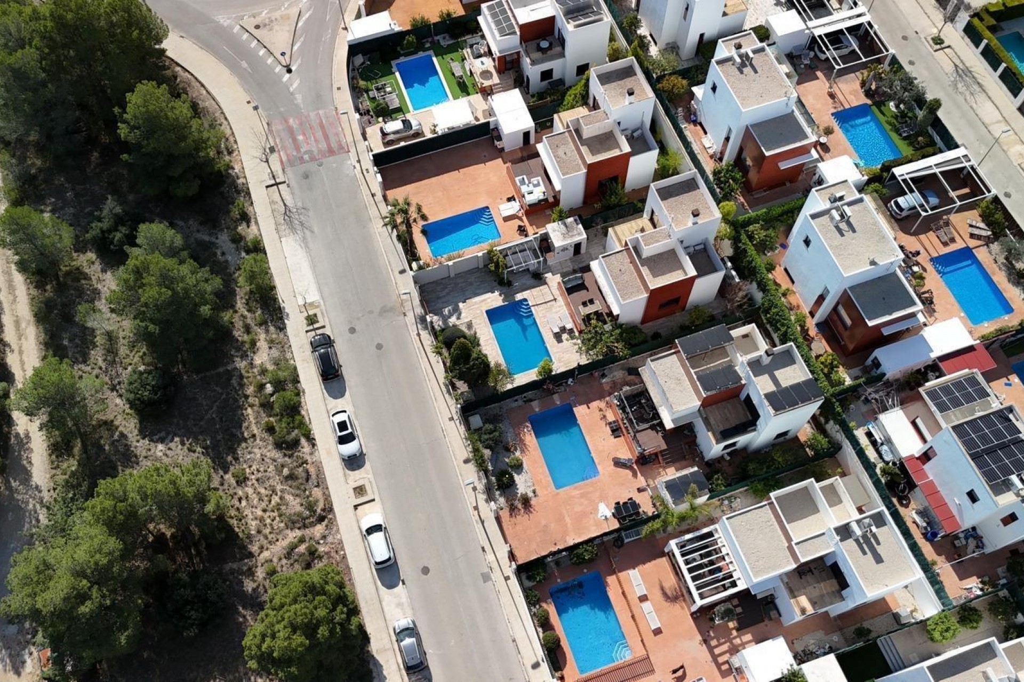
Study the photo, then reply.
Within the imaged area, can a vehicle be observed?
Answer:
Yes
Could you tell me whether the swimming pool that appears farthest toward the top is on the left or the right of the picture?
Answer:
right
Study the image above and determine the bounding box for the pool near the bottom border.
[548,569,635,677]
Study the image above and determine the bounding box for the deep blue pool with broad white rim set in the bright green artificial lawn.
[390,47,457,115]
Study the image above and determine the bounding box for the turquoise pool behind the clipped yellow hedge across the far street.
[994,27,1024,75]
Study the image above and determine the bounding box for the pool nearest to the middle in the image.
[483,295,556,378]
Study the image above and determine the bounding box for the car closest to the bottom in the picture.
[392,615,428,676]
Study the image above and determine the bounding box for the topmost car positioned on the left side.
[383,118,425,145]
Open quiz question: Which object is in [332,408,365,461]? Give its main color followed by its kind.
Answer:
white car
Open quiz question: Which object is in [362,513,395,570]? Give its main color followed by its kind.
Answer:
white car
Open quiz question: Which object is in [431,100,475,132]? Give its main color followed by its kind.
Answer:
white gazebo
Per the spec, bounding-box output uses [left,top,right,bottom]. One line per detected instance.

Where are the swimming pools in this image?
[548,569,635,677]
[929,244,1015,327]
[994,27,1024,75]
[483,295,556,378]
[421,204,502,258]
[390,47,457,115]
[831,101,904,167]
[527,401,602,491]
